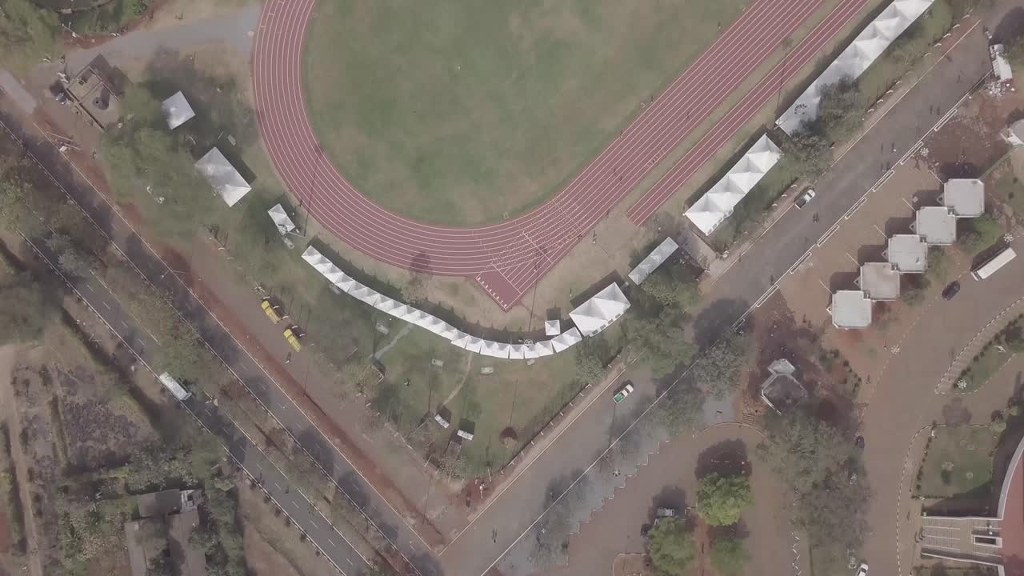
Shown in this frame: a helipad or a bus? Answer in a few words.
bus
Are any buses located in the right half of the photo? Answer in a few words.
Yes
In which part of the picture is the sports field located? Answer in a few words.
top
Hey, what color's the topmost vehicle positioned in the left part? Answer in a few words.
yellow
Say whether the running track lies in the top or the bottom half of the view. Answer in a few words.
top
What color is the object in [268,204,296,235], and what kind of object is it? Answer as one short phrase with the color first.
white tent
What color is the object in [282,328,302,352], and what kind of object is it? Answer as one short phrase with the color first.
yellow vehicle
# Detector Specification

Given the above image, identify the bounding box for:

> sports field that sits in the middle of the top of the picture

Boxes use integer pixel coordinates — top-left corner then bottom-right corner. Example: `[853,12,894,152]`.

[302,0,754,226]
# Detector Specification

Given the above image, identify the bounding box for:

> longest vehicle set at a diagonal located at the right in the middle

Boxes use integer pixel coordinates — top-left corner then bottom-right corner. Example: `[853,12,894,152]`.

[972,248,1018,282]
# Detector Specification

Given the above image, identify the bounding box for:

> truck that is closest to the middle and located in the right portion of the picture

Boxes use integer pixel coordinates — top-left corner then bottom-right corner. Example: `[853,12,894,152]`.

[612,383,634,405]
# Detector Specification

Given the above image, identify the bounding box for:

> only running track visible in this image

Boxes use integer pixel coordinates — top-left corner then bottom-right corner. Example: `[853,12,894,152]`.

[253,0,824,312]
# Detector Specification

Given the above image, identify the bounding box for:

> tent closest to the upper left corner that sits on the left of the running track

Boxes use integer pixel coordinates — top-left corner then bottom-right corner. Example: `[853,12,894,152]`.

[161,92,200,128]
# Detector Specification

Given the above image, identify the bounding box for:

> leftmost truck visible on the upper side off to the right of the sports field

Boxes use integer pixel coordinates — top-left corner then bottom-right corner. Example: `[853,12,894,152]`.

[794,188,816,210]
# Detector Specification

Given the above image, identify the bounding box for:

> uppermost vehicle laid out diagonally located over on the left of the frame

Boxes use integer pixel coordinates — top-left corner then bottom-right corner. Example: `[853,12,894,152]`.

[260,300,280,323]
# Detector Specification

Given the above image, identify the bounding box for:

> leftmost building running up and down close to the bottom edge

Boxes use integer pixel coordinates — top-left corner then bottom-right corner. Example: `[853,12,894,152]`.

[124,520,152,576]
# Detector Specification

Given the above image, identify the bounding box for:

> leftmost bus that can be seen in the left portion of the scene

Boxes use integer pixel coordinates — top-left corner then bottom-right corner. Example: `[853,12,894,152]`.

[159,371,191,402]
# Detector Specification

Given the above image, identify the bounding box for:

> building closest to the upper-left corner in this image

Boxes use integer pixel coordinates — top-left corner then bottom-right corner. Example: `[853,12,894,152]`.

[66,65,128,135]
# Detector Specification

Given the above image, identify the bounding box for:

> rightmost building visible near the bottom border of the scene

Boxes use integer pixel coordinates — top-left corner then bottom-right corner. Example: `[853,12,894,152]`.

[922,407,1024,576]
